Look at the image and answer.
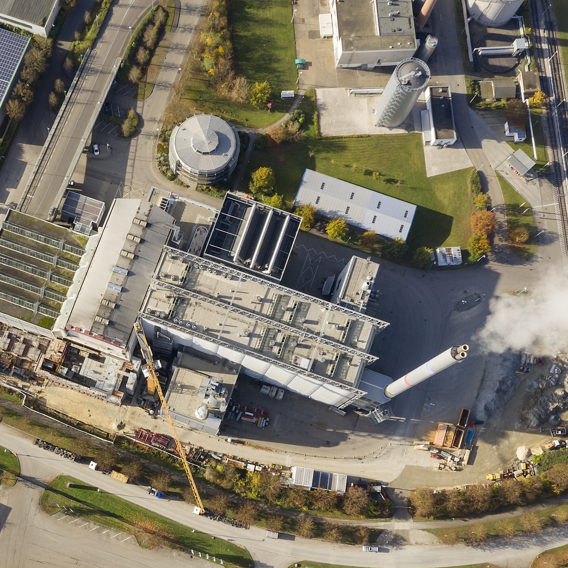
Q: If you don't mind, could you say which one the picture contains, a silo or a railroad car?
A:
silo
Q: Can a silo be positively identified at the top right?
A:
Yes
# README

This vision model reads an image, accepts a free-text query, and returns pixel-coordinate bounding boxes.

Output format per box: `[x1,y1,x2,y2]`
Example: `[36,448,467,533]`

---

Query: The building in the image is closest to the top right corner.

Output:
[511,35,533,61]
